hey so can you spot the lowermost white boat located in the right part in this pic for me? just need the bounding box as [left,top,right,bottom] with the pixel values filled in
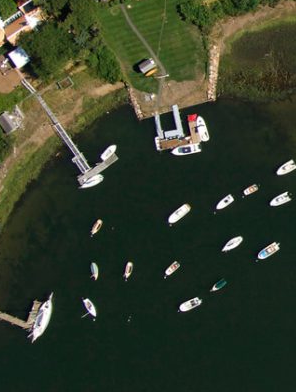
[179,296,203,311]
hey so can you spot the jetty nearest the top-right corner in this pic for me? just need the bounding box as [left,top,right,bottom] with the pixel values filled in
[155,108,200,151]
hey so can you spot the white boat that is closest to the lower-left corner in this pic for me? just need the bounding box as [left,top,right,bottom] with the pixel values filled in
[30,293,52,342]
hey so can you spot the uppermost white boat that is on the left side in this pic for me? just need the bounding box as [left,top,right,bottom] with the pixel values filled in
[99,146,116,161]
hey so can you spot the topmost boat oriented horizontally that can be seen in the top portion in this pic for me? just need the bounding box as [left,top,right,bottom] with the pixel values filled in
[172,143,201,155]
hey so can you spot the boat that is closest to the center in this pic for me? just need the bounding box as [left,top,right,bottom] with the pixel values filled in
[169,202,192,224]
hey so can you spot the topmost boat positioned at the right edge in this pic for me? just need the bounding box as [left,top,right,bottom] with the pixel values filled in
[277,158,296,174]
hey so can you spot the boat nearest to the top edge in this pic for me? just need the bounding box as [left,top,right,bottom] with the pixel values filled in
[198,115,210,142]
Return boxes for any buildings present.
[0,111,21,134]
[8,47,33,69]
[139,58,158,78]
[0,1,37,43]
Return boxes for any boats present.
[91,262,98,280]
[198,115,210,142]
[223,235,243,251]
[169,202,192,224]
[83,298,96,316]
[125,261,133,279]
[217,193,235,210]
[179,296,203,311]
[258,240,281,259]
[92,219,103,234]
[270,189,292,206]
[172,143,201,155]
[165,260,182,275]
[244,183,260,195]
[99,146,116,161]
[30,293,52,342]
[277,158,296,174]
[79,175,104,188]
[212,278,228,291]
